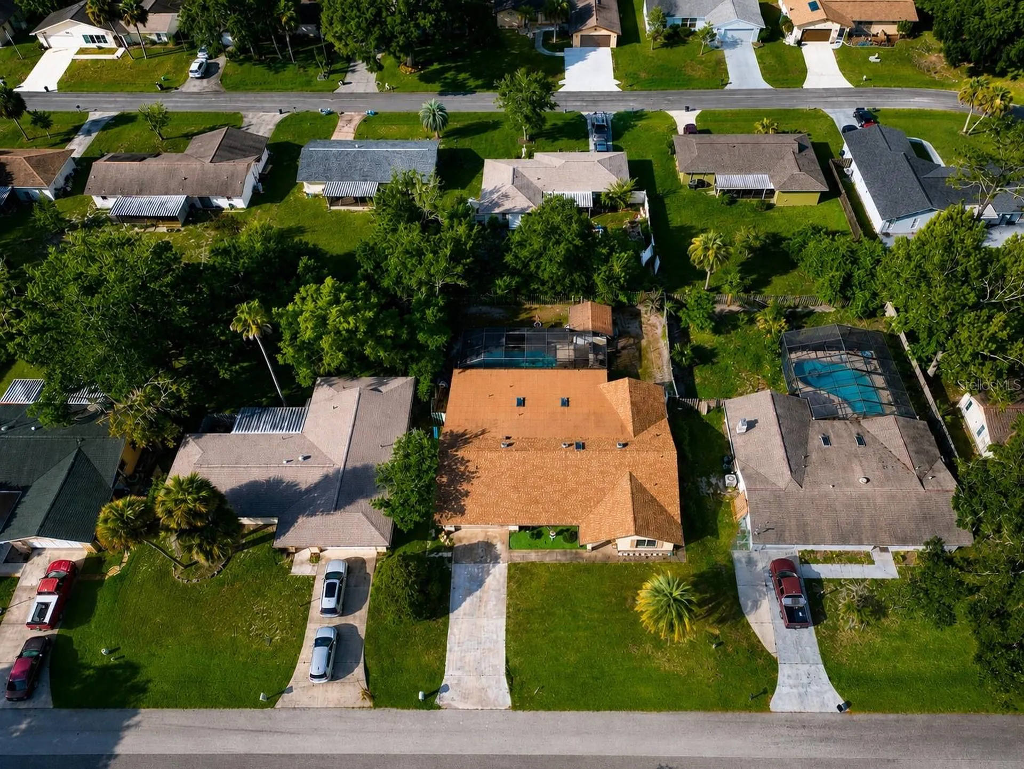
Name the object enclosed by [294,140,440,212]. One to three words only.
house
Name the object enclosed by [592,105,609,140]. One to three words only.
vehicle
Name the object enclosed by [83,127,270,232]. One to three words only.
house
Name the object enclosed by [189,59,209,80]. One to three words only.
car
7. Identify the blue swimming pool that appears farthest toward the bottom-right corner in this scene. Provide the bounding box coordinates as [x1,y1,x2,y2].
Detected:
[793,357,886,418]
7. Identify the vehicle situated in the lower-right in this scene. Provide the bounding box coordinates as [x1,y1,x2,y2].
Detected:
[769,560,810,629]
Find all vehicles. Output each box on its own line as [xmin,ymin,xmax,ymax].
[308,628,339,684]
[769,560,810,629]
[851,106,877,126]
[682,121,698,134]
[840,125,856,135]
[593,138,609,152]
[27,562,79,628]
[592,105,609,140]
[189,59,209,80]
[319,561,349,618]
